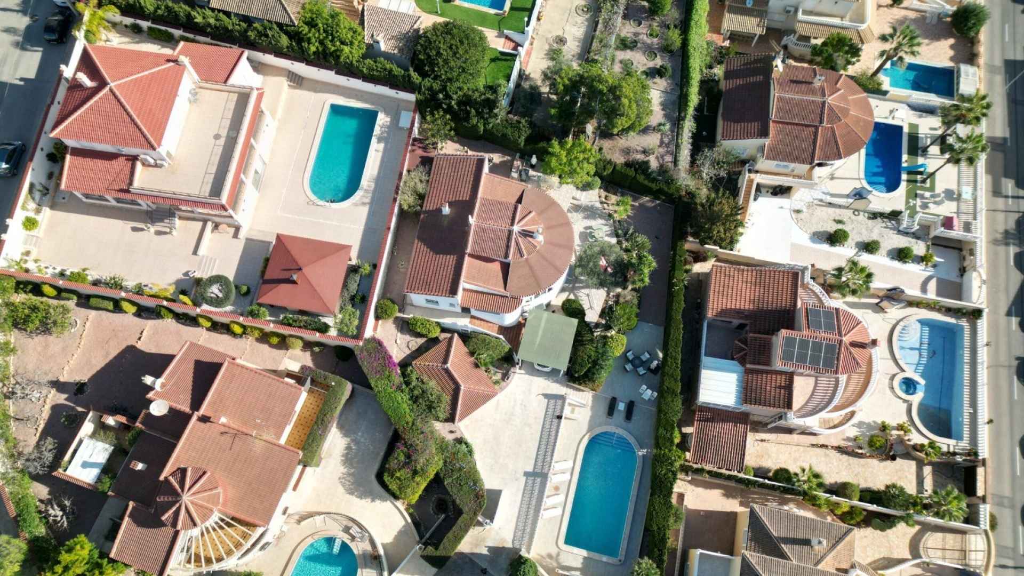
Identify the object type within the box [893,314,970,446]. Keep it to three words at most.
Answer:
swimming pool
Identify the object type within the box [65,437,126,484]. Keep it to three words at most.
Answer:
shed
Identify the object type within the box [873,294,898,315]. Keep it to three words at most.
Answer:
umbrella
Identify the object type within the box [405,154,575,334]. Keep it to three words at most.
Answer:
house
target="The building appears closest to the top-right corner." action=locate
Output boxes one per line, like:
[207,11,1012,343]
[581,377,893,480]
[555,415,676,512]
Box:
[954,65,978,100]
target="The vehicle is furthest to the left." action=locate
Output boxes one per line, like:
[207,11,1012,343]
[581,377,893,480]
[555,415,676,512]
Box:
[0,134,25,178]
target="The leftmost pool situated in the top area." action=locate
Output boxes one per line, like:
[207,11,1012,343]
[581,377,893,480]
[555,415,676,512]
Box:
[304,99,384,207]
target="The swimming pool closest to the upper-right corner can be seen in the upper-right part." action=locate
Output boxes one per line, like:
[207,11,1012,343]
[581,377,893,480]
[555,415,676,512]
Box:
[879,60,958,100]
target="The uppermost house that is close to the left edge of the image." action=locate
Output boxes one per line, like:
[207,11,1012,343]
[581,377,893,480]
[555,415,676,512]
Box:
[48,40,304,237]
